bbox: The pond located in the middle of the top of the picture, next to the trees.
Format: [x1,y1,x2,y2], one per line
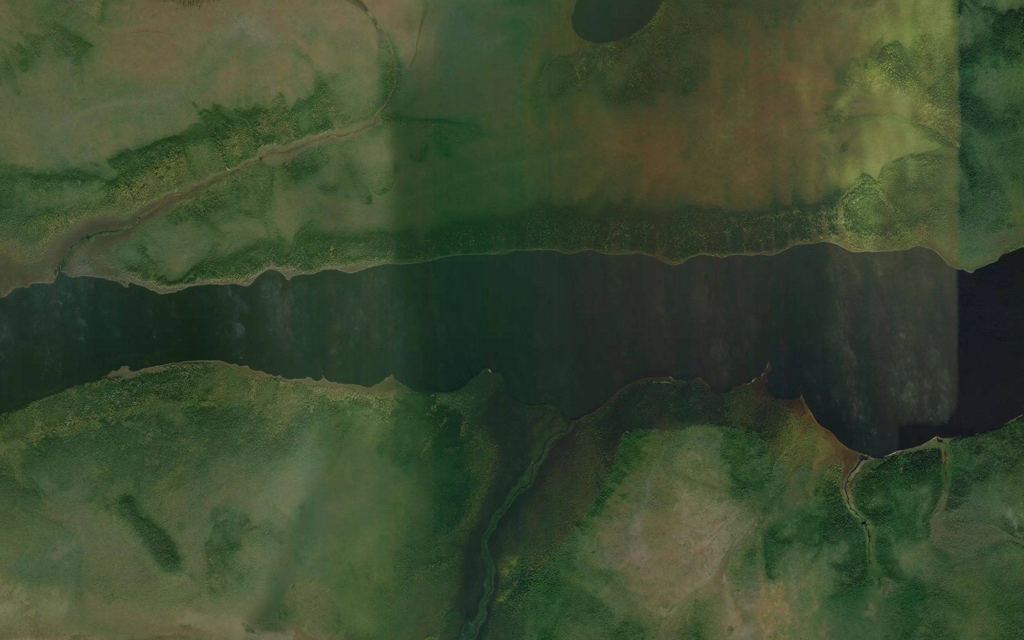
[572,0,661,43]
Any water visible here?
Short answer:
Yes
